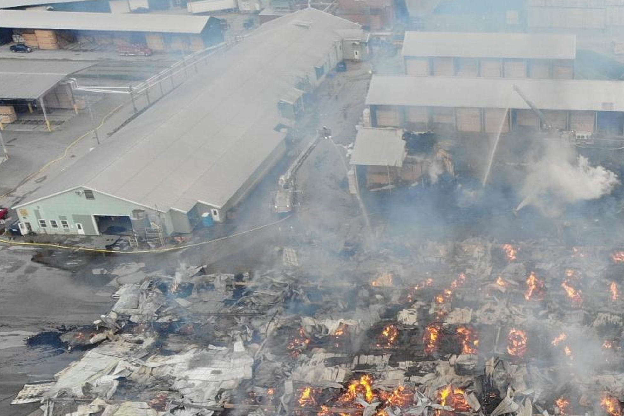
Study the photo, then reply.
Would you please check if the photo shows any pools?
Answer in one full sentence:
No, the scene contains no pool.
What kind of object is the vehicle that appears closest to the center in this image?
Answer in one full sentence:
I'd identify the vehicle that appears closest to the center as a truck.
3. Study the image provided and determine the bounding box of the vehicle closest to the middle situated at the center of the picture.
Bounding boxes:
[273,125,330,209]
